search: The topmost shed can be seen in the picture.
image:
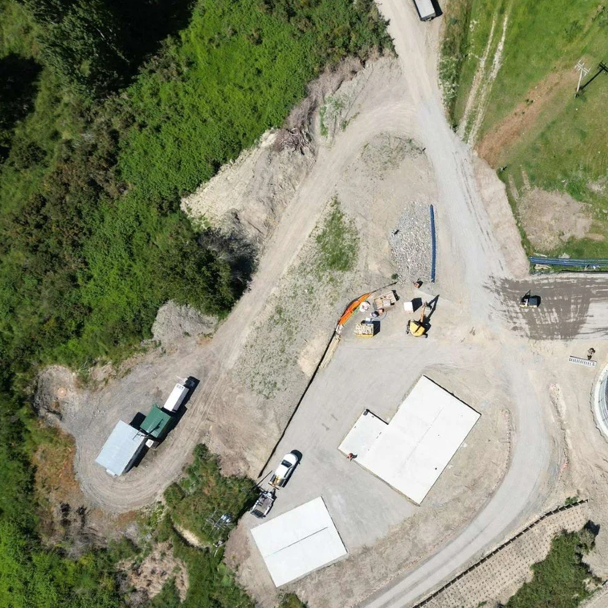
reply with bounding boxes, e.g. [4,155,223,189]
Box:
[134,405,174,438]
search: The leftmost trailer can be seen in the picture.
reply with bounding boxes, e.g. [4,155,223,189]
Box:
[157,376,191,414]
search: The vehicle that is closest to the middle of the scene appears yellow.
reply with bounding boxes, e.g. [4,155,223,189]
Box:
[407,301,429,339]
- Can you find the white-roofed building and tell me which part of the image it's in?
bottom left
